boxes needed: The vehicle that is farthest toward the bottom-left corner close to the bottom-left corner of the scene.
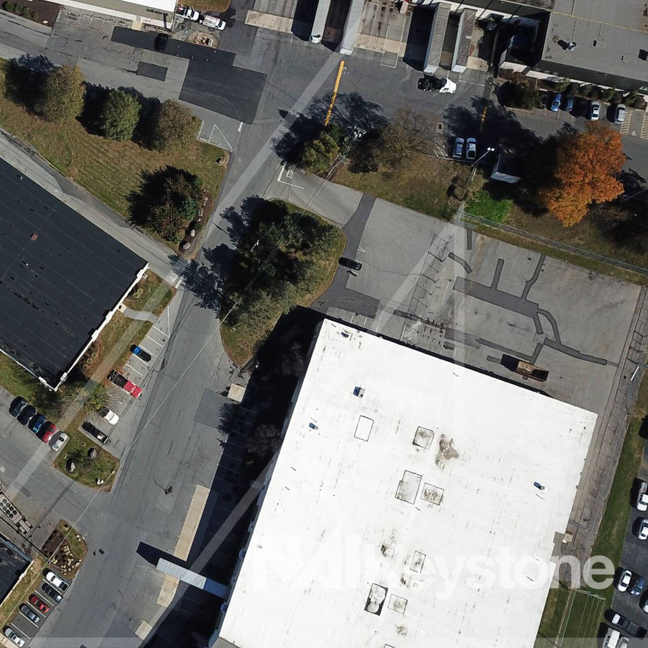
[4,625,25,647]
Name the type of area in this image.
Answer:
industrial area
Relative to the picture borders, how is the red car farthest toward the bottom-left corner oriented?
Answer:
diagonally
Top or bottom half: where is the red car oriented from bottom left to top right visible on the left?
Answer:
bottom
